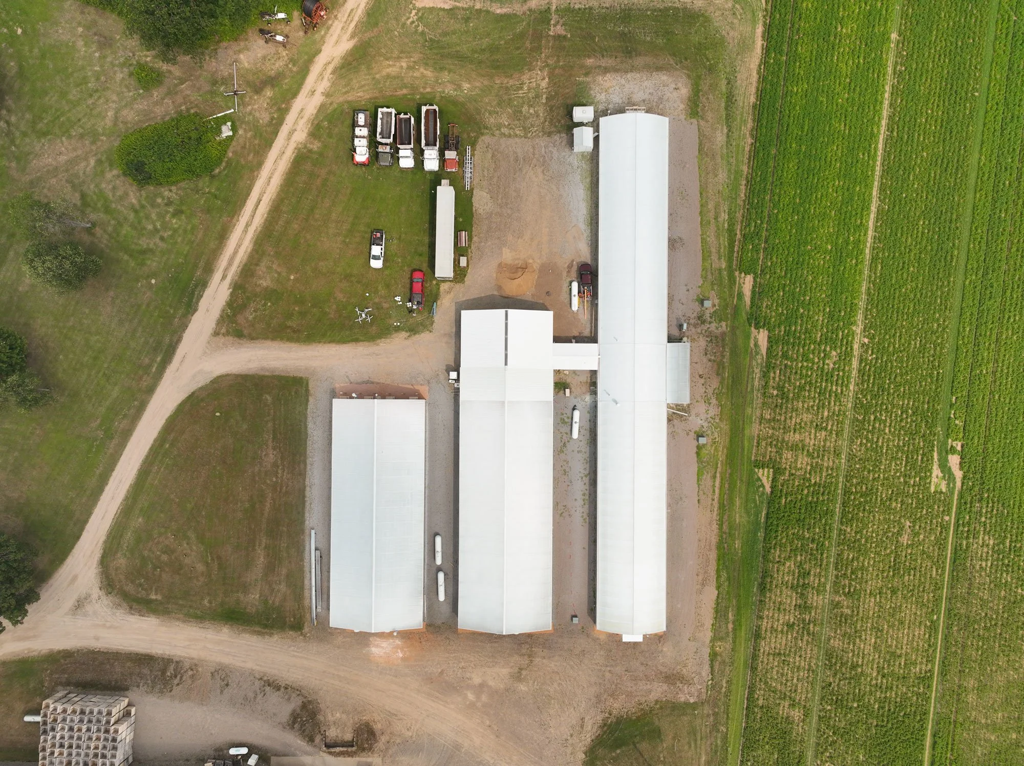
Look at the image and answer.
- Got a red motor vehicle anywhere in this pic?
Yes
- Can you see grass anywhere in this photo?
Yes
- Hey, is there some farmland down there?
Yes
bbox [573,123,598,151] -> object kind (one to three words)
shed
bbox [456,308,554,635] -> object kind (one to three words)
shed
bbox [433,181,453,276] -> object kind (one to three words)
trailer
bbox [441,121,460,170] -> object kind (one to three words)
vehicle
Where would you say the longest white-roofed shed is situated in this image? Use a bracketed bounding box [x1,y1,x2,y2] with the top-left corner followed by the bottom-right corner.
[595,106,670,639]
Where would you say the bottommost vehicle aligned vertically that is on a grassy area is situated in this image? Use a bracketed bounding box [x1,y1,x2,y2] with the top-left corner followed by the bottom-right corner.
[408,270,424,309]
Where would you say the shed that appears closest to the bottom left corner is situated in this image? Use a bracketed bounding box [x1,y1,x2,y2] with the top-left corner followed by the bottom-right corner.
[330,392,431,635]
